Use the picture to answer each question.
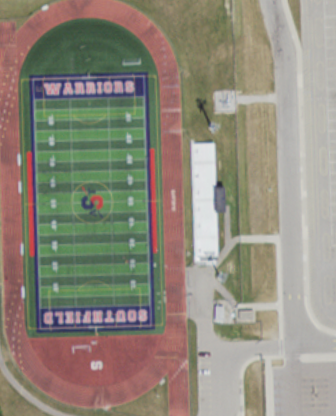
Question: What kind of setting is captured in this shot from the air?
sports ground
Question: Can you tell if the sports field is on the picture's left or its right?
left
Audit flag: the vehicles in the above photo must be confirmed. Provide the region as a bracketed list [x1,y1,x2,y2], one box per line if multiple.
[198,352,210,356]
[198,370,210,375]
